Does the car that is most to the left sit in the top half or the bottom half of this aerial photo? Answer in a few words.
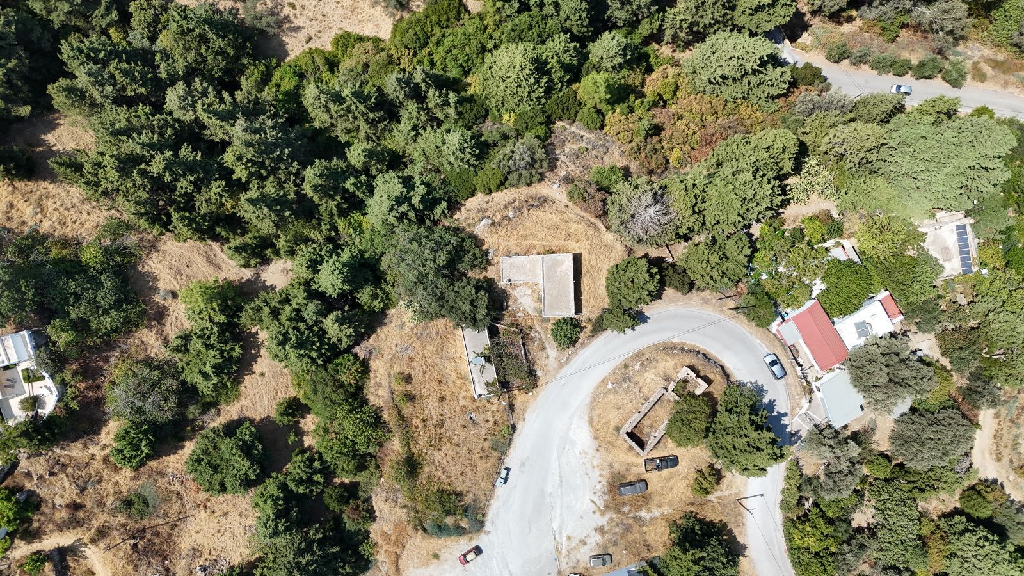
bottom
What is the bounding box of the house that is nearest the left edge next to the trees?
[0,329,48,369]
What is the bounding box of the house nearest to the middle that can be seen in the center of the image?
[501,253,574,317]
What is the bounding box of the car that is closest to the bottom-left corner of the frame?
[458,543,484,565]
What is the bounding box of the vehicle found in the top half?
[887,83,912,96]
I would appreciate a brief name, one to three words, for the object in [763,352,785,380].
car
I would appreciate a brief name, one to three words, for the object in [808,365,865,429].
house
